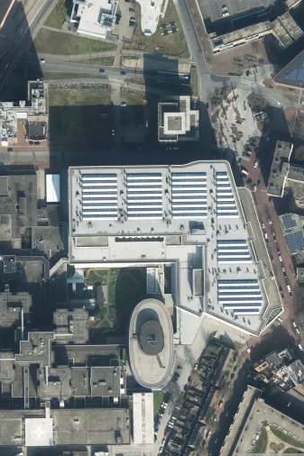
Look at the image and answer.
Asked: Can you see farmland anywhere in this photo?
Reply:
No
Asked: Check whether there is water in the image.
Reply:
No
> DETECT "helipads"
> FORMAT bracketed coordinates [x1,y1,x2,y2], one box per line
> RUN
[25,403,52,451]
